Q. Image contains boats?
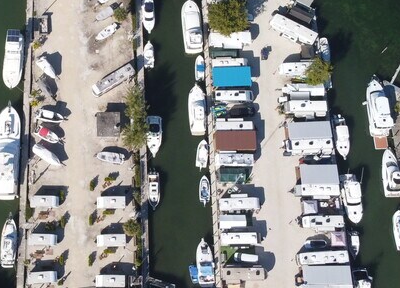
Yes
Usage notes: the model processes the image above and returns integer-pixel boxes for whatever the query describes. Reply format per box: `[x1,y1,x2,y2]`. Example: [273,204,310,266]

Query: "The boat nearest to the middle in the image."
[195,137,208,169]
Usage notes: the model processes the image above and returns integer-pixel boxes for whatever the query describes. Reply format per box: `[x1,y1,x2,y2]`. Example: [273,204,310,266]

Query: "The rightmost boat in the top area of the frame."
[365,72,394,145]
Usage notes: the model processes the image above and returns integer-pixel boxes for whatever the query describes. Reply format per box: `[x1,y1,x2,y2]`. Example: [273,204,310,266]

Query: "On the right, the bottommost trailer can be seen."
[219,267,266,280]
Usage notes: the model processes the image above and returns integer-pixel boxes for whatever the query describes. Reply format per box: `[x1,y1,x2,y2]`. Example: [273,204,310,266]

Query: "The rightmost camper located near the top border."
[268,14,317,45]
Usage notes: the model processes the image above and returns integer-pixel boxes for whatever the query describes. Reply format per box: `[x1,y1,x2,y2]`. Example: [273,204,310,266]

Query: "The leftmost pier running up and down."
[201,0,222,288]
